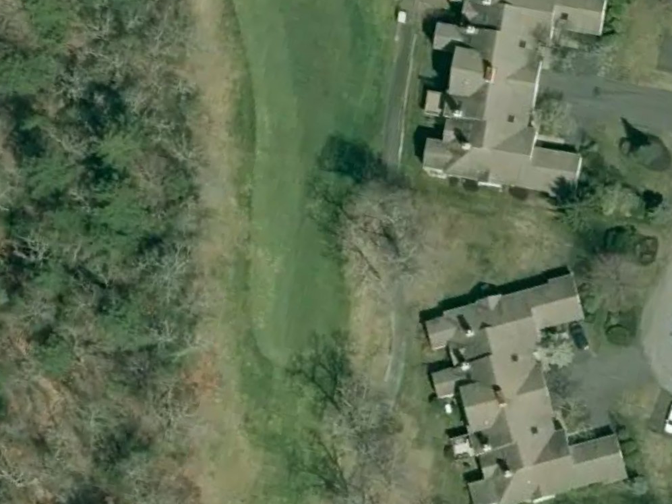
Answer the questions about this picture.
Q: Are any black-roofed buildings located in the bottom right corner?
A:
No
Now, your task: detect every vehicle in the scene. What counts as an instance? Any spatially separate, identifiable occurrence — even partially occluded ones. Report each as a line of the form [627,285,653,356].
[569,319,590,352]
[665,403,672,434]
[397,8,407,25]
